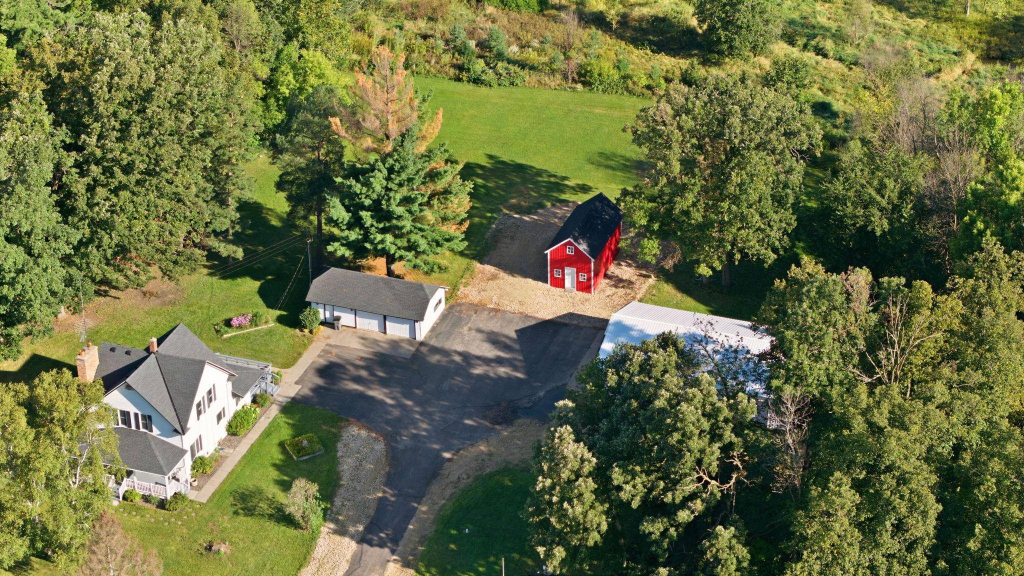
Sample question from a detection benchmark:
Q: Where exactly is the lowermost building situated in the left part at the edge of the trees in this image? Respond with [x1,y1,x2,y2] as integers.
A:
[75,321,286,501]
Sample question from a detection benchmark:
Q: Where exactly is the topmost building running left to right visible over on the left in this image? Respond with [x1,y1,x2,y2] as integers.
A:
[307,264,450,340]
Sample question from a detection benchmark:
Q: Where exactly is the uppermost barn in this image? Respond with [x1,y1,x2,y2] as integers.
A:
[545,193,625,295]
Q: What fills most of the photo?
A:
trees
